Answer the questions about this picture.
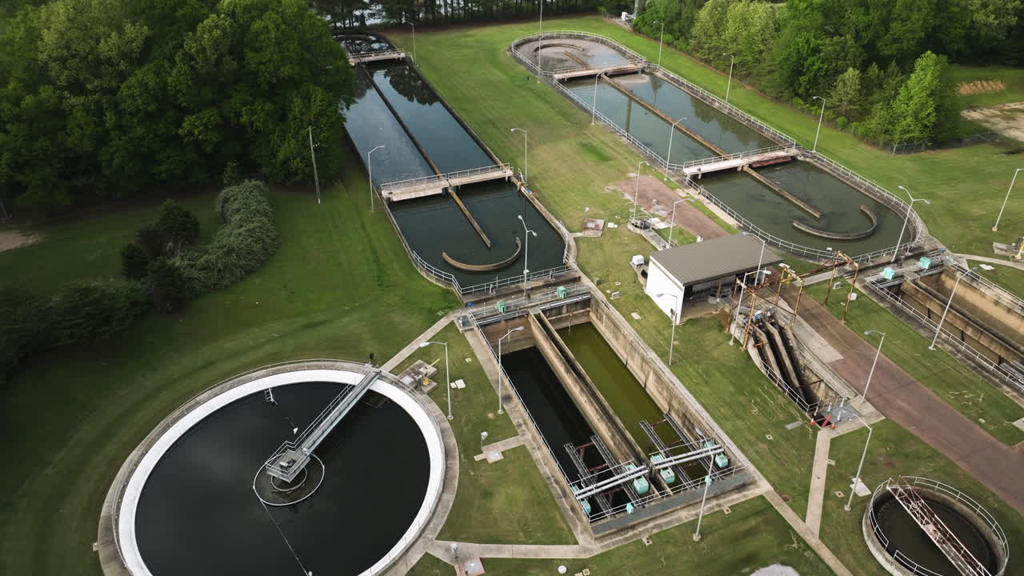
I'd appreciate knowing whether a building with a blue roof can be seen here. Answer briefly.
No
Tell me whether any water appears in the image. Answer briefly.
Yes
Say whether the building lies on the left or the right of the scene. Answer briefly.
right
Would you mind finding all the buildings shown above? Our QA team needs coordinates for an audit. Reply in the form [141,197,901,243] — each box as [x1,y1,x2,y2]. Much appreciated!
[645,232,788,324]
